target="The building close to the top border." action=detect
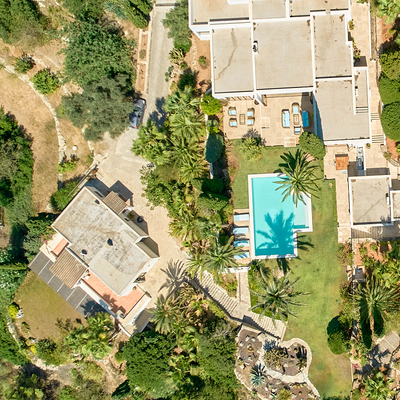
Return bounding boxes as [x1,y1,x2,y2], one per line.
[189,0,371,147]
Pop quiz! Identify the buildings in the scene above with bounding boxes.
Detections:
[39,186,161,332]
[349,176,400,227]
[189,0,371,147]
